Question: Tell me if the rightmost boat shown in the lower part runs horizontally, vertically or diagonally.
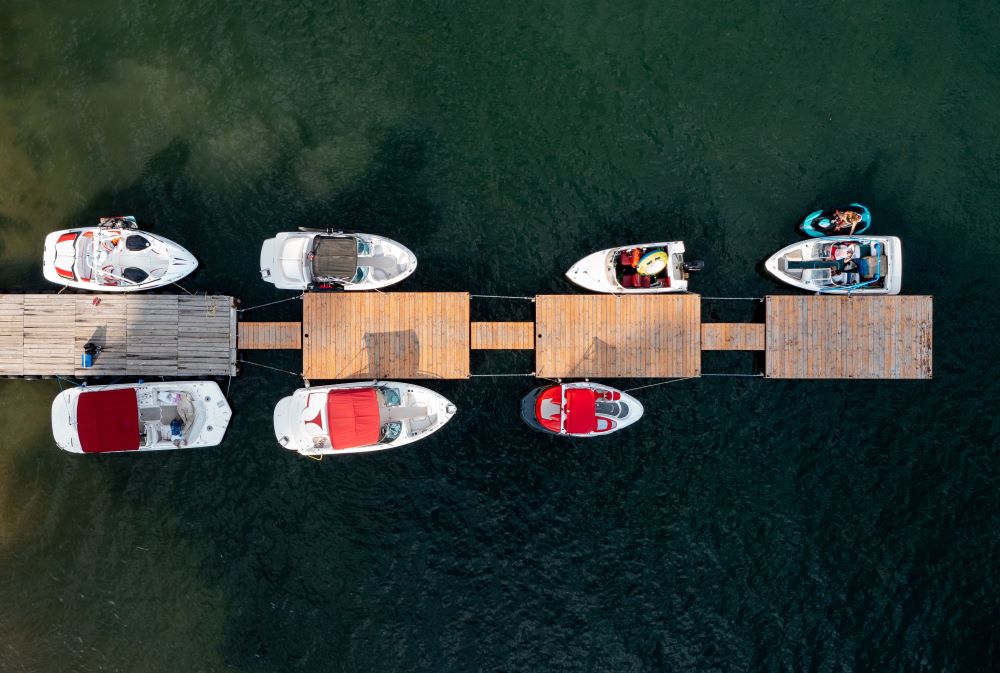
horizontally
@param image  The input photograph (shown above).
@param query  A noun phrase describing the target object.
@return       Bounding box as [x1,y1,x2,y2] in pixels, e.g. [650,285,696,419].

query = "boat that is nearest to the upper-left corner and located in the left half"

[44,216,198,292]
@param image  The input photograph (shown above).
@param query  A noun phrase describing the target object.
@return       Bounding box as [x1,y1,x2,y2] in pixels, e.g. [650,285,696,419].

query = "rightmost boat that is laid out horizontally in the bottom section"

[520,378,645,438]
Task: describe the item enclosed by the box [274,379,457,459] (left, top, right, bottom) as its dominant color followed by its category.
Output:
white boat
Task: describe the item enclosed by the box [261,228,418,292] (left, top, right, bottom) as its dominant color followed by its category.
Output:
white boat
